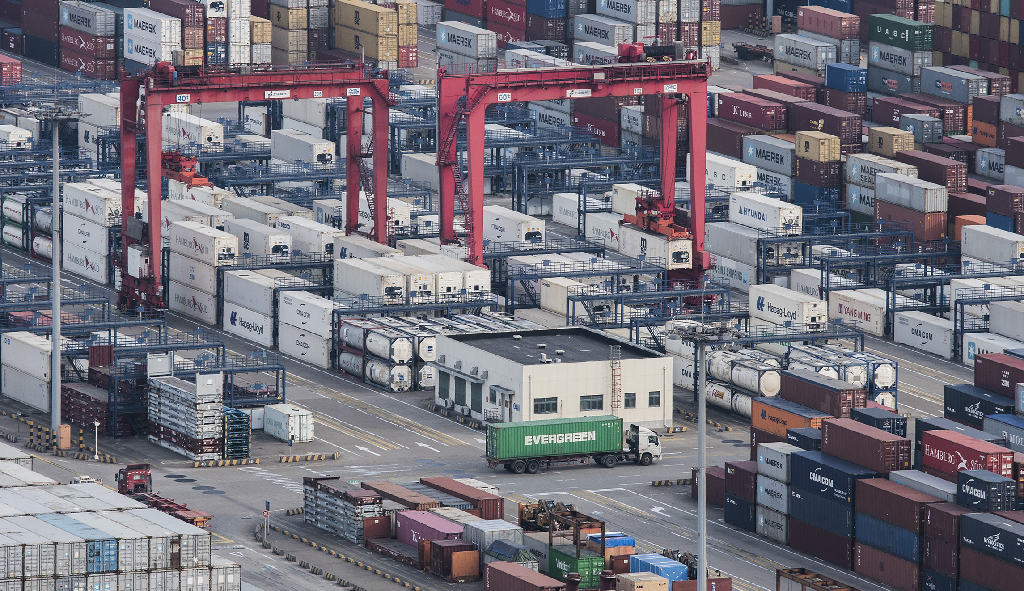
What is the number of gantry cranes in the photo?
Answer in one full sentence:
There are 2 gantry cranes in the image.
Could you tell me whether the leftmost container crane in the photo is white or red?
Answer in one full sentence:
The color of the leftmost container crane is red.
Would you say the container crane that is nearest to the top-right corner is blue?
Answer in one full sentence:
No, the container crane that is nearest to the top-right corner is red.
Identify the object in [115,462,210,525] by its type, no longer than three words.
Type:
truck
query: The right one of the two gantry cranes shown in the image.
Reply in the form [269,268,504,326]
[435,39,728,315]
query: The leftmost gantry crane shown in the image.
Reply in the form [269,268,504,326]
[105,42,401,329]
